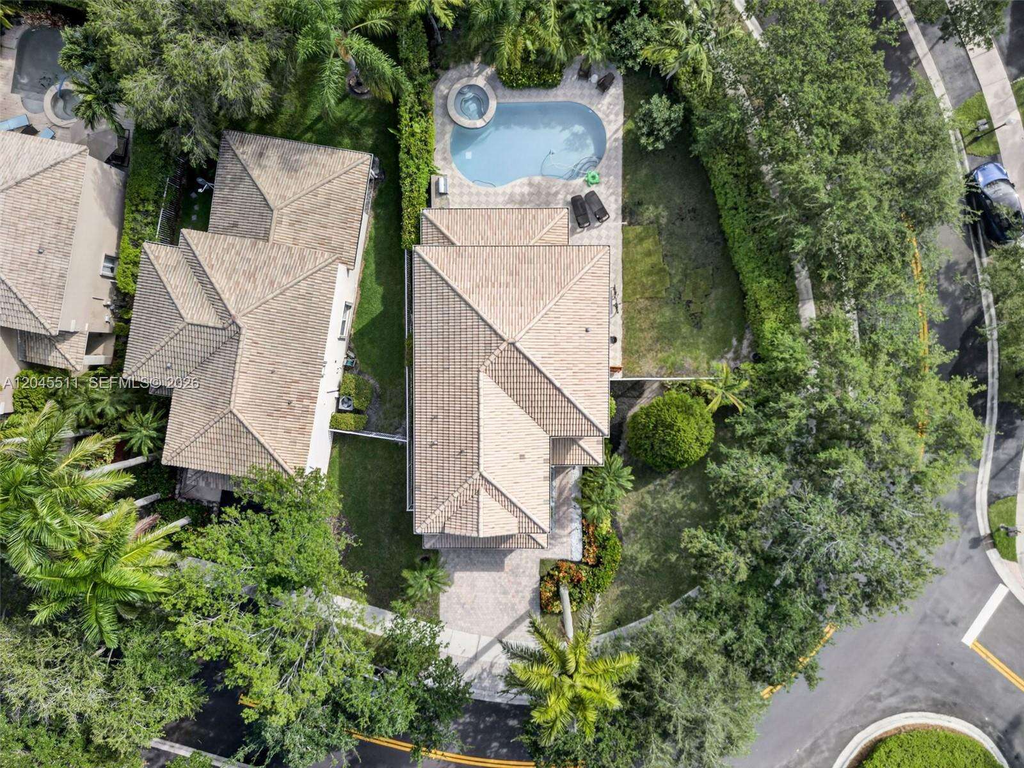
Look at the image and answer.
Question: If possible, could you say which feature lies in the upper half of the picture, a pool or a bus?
pool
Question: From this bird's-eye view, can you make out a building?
Yes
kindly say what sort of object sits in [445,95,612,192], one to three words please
swimming pool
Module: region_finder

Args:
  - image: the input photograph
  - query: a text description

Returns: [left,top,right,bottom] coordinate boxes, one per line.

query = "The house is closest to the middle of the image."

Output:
[411,205,612,551]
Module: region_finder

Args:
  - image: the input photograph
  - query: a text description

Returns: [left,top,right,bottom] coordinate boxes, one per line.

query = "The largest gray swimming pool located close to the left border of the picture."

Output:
[6,24,78,117]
